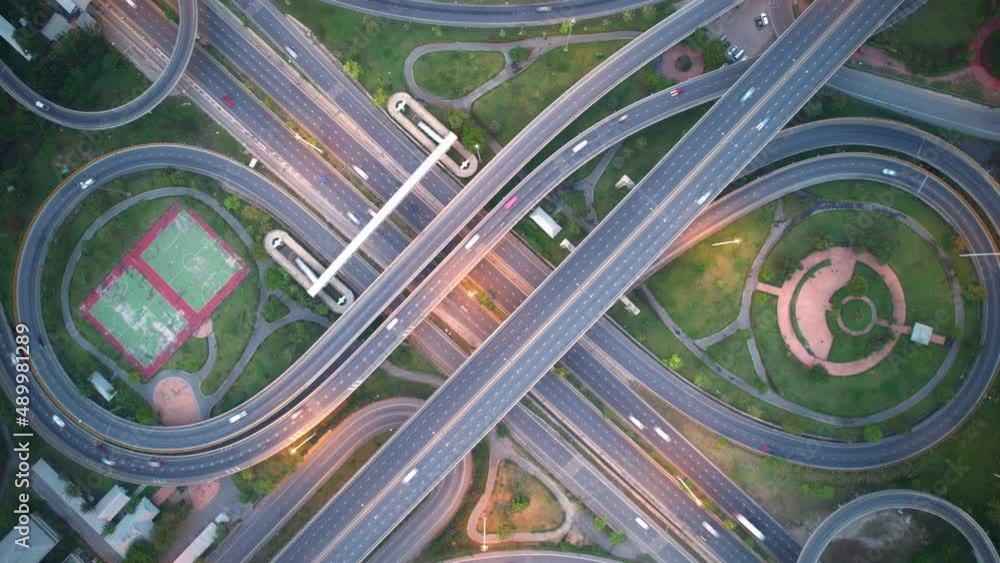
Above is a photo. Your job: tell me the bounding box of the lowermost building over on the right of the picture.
[911,323,939,346]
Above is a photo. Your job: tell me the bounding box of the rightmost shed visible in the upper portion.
[531,207,561,237]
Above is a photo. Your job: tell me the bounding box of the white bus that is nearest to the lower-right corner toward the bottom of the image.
[735,512,769,543]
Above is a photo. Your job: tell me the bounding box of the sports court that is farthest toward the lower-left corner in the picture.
[79,259,197,378]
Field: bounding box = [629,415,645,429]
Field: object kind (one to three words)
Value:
vehicle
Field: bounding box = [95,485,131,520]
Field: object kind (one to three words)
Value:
house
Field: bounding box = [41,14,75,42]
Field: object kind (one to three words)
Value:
house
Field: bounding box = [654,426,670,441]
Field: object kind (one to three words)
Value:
vehicle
